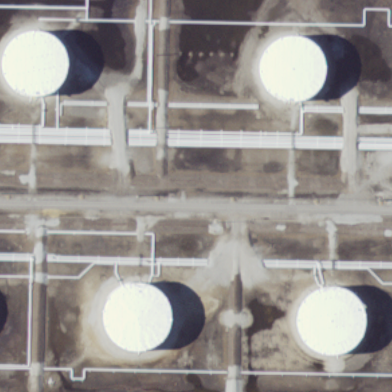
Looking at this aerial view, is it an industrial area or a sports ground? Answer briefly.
industrial area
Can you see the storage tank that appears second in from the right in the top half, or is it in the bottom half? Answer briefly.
top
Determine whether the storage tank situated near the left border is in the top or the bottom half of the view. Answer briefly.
top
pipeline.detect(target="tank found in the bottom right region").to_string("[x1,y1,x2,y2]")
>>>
[296,286,368,358]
